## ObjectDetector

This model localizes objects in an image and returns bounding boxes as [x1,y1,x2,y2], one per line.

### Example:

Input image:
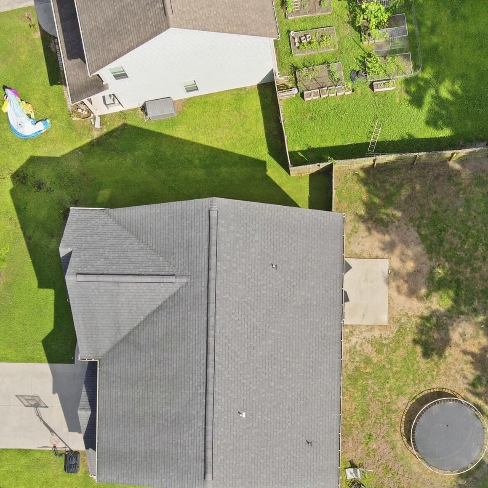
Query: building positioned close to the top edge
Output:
[48,0,281,123]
